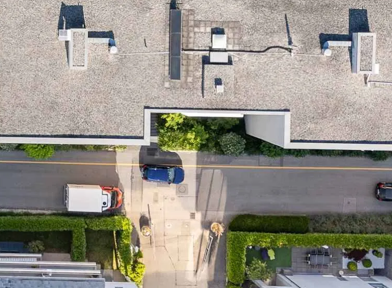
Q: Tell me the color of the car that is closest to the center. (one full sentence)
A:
The car that is closest to the center is blue.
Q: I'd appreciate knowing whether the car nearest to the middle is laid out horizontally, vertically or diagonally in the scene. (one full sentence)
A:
The car nearest to the middle has been laid out horizontally relative to the frame.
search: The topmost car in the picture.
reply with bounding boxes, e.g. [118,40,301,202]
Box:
[140,164,183,186]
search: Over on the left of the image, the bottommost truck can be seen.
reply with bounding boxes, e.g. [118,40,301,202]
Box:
[64,185,127,215]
